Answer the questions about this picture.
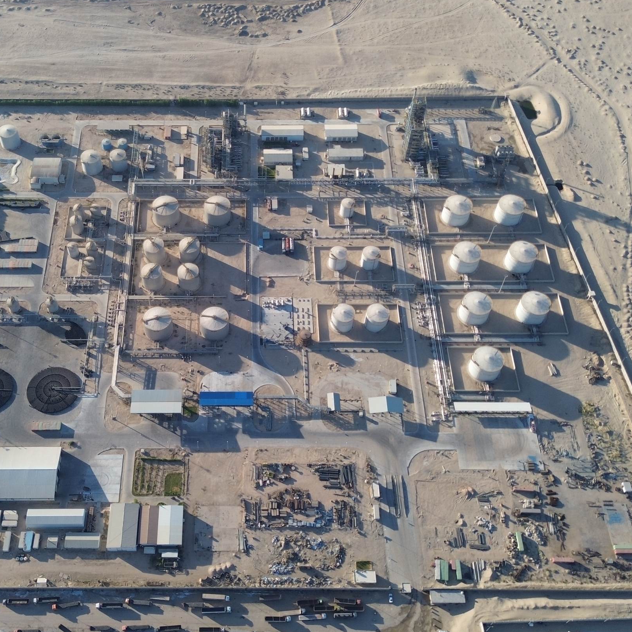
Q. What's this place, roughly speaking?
industrial area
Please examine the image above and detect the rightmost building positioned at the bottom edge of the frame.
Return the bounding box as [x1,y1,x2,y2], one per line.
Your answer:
[429,589,465,607]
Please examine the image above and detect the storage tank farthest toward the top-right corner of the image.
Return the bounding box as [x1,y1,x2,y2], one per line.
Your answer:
[493,193,527,230]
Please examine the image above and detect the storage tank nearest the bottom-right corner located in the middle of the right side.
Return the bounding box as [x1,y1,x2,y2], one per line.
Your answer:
[469,346,504,388]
